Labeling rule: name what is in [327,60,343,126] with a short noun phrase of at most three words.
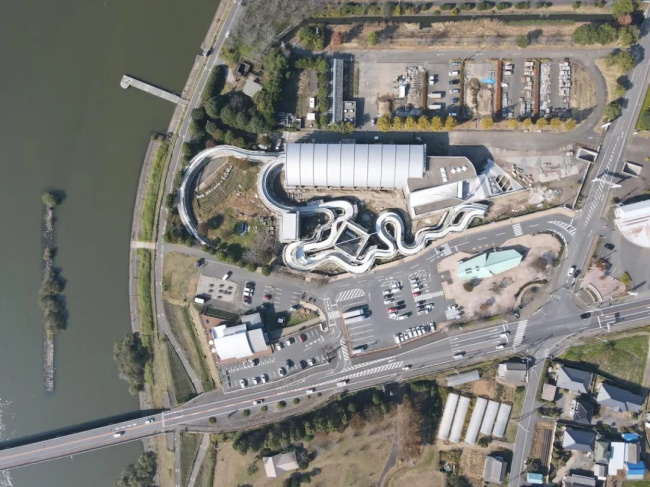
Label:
shed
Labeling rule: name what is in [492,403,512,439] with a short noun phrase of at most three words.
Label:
greenhouse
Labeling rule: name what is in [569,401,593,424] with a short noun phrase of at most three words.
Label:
house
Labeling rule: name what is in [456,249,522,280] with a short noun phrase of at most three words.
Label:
building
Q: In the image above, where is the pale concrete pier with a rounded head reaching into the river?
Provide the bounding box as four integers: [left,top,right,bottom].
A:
[121,75,187,105]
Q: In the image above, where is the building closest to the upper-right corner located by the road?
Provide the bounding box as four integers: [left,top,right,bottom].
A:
[607,196,650,247]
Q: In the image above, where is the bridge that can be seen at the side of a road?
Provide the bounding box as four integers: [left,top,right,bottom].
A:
[0,411,163,469]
